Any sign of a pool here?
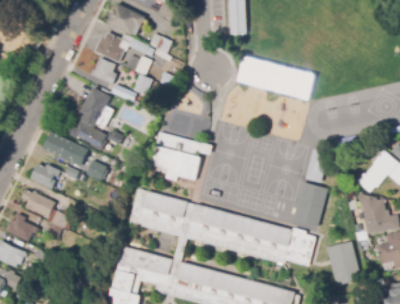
Yes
